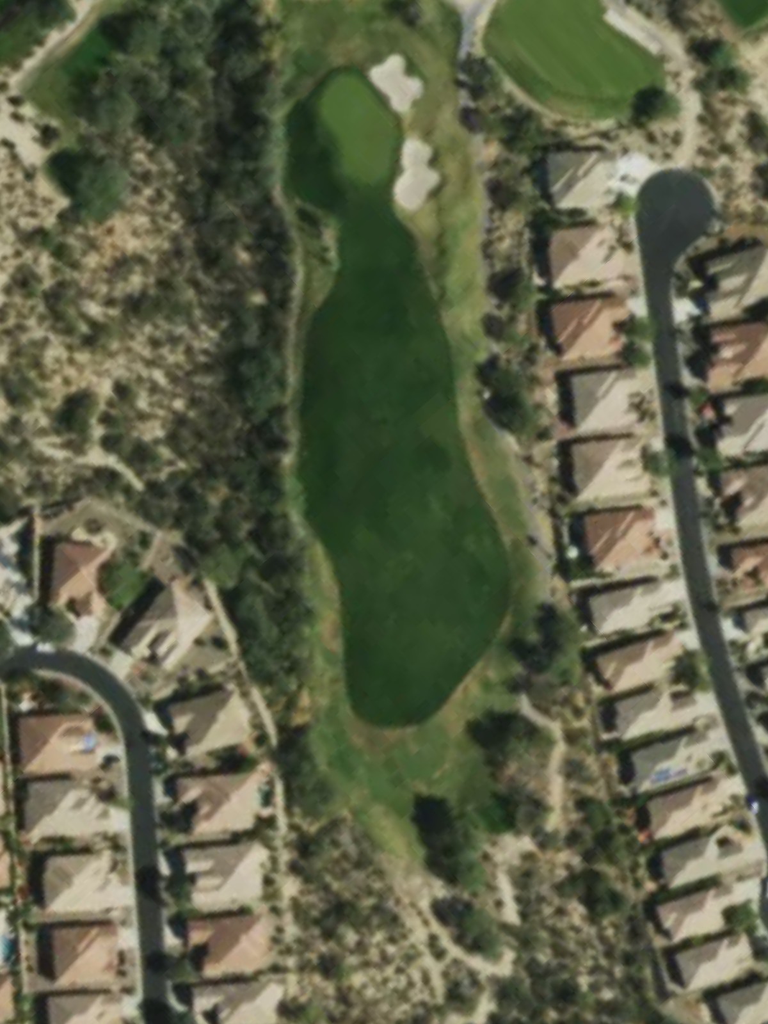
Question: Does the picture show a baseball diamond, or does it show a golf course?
golf course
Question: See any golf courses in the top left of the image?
Yes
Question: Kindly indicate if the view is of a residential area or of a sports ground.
residential area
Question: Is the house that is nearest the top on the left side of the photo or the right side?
right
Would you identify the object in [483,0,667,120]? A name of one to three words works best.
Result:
golf course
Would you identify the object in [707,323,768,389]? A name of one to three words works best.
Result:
house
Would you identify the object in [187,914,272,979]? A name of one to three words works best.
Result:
house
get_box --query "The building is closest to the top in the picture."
[546,152,615,213]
